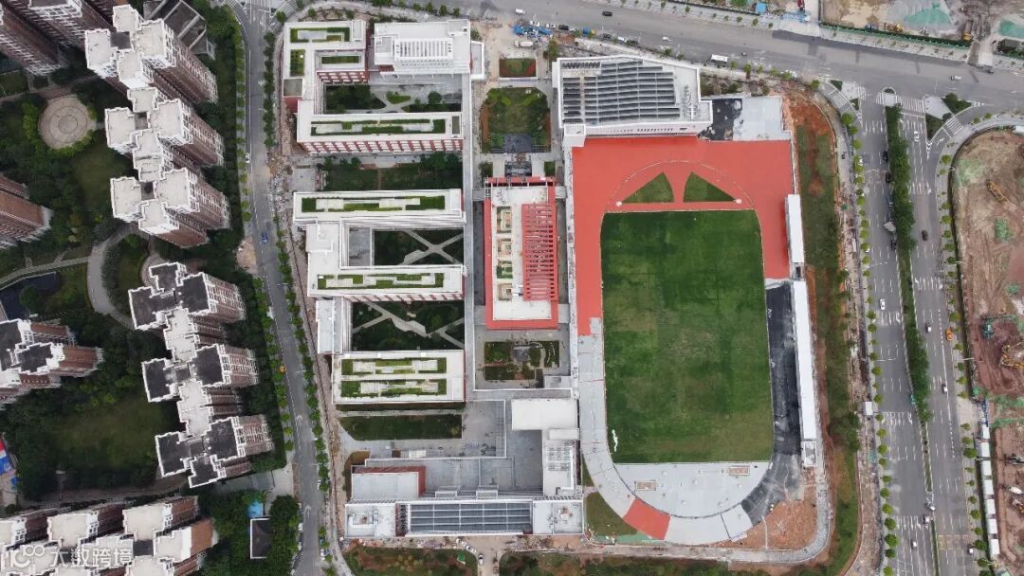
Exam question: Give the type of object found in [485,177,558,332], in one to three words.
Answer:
building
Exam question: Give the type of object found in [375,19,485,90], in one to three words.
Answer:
building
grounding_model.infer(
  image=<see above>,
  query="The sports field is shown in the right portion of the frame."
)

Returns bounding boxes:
[573,138,804,544]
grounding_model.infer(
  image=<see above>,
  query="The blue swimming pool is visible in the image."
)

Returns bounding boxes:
[246,499,265,518]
